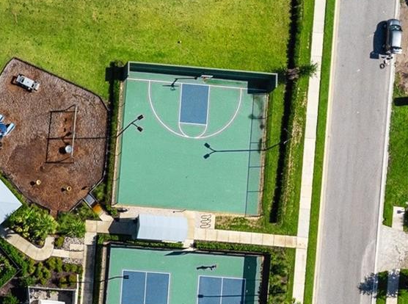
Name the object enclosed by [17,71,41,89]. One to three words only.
car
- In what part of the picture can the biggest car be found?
top right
